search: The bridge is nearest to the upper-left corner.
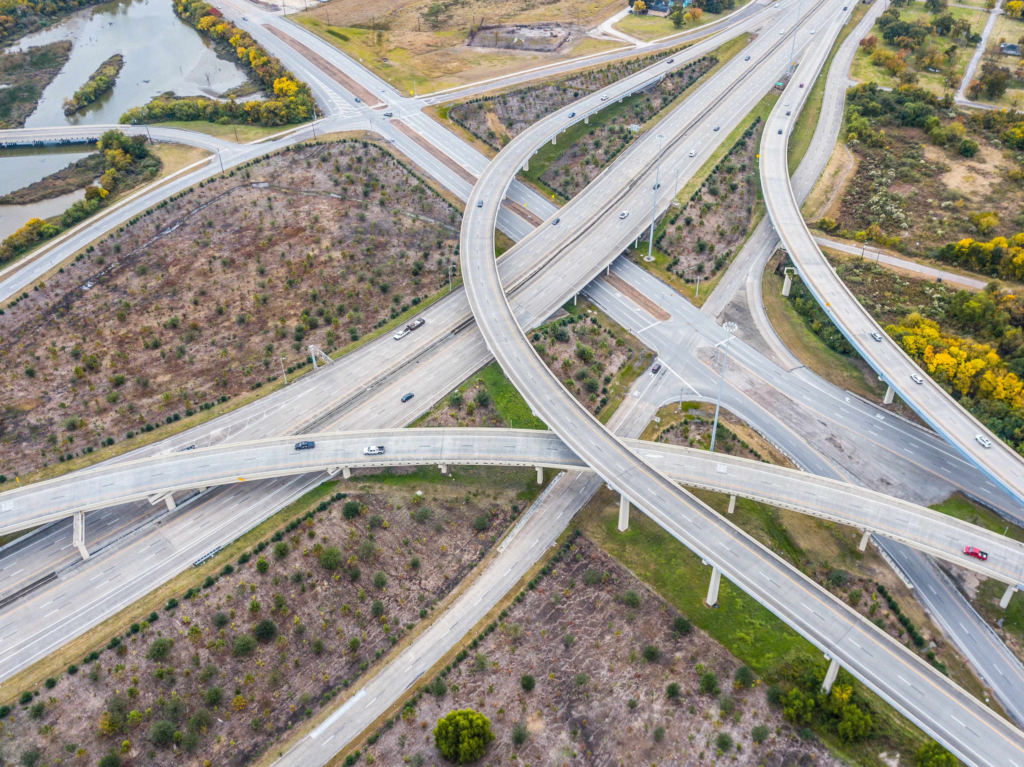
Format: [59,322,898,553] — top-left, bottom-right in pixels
[0,124,136,147]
